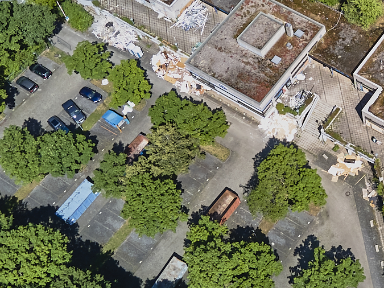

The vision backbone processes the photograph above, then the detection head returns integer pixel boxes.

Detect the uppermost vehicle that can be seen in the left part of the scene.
[28,62,55,82]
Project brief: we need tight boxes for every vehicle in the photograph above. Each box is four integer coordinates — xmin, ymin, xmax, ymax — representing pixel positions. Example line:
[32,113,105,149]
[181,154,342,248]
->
[58,98,90,124]
[28,62,55,82]
[14,75,43,95]
[44,113,74,133]
[76,83,106,106]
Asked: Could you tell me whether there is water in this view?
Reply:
No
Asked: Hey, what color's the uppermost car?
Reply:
black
